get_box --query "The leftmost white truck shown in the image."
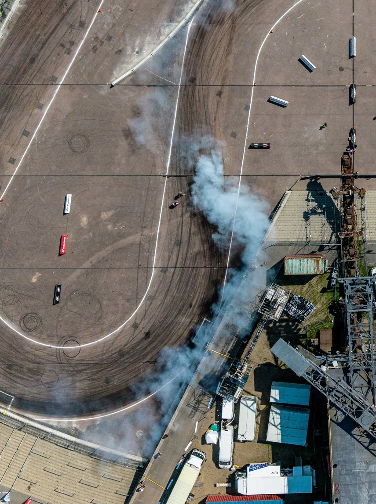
[162,440,212,504]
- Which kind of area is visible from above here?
sports ground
